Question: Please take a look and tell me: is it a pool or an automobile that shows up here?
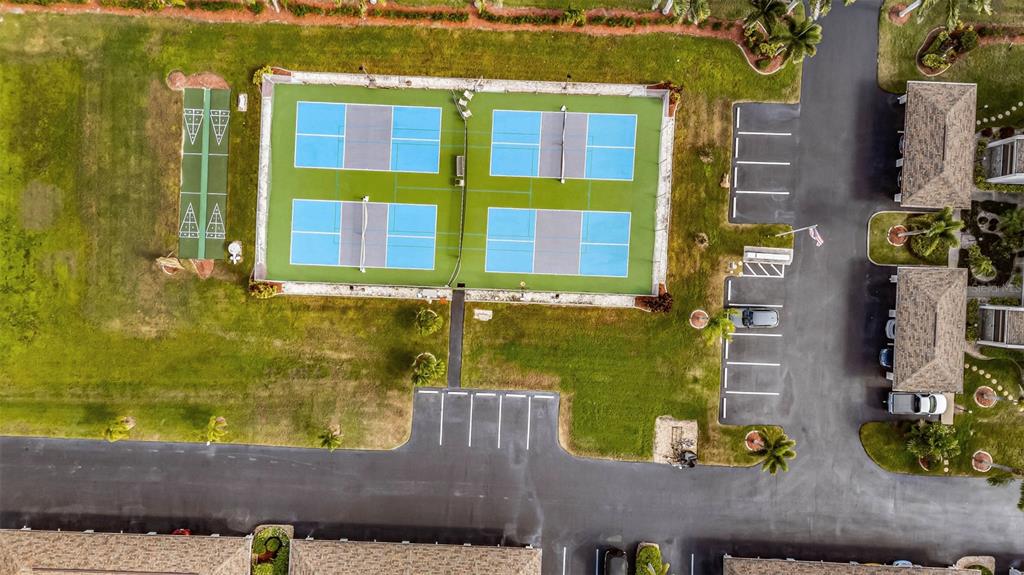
automobile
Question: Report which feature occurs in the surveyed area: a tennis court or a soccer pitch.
tennis court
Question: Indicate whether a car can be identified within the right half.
Yes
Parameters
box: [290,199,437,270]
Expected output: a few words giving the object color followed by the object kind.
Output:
blue sports court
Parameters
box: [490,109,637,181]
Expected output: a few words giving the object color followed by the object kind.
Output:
blue sports court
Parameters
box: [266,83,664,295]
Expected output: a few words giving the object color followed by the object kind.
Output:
green tennis court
